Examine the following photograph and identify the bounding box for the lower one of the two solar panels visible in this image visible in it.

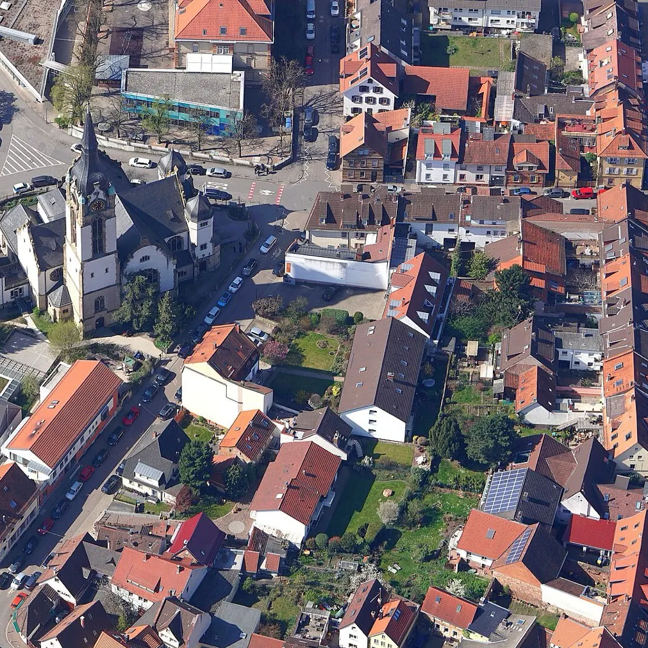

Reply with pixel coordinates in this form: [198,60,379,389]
[503,528,531,560]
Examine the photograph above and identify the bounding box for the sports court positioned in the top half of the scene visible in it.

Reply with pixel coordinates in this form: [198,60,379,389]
[110,27,143,67]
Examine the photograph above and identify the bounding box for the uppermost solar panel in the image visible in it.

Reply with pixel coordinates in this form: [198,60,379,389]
[486,473,524,515]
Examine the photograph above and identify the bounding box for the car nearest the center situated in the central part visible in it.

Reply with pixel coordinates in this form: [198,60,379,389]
[321,283,341,300]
